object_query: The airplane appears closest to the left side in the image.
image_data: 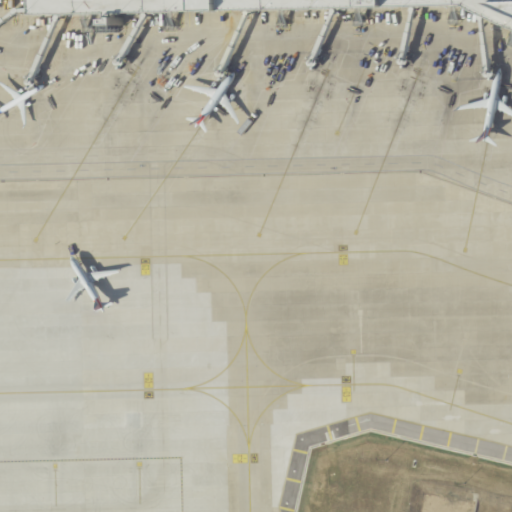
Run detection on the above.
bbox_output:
[0,78,44,126]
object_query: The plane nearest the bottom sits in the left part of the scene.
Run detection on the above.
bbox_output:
[65,256,114,318]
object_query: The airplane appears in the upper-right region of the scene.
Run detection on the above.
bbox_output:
[454,70,512,144]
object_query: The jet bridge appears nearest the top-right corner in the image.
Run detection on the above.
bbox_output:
[478,12,494,76]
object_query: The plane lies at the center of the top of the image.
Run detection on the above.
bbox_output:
[186,74,236,134]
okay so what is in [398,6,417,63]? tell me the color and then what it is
white jet bridge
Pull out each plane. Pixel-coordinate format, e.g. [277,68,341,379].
[186,74,236,134]
[454,70,512,144]
[0,78,44,126]
[65,256,114,318]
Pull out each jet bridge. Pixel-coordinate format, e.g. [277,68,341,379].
[308,8,338,64]
[115,14,150,64]
[478,12,494,76]
[220,10,252,74]
[398,6,417,63]
[25,14,62,83]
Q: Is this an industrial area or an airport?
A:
airport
